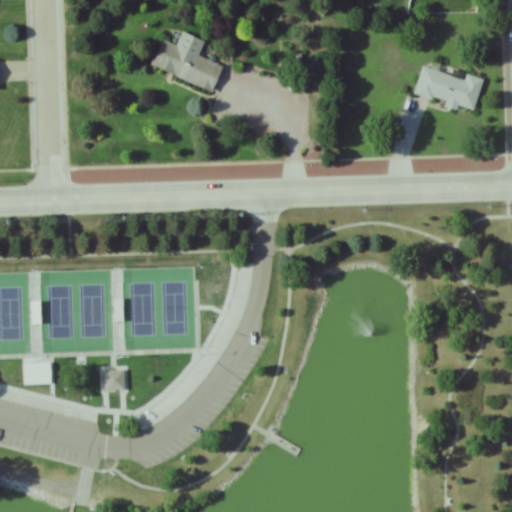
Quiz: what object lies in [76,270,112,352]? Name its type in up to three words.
tennis court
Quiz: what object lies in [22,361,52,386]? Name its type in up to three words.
building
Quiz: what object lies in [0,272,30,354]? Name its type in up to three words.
tennis court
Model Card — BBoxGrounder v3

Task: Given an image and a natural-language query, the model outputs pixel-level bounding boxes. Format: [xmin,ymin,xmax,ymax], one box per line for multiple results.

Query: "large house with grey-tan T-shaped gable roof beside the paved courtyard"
[152,32,224,90]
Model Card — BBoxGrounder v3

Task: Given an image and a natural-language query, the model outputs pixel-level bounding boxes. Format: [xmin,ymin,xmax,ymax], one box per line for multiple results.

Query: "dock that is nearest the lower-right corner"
[254,424,302,456]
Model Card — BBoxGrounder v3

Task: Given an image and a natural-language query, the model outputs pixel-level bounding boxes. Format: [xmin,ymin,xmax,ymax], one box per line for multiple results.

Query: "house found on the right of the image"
[414,66,484,110]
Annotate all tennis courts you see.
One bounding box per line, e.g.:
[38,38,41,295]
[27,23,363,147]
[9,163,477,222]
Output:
[41,271,78,353]
[0,272,30,354]
[158,268,196,349]
[124,268,160,350]
[76,270,112,352]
